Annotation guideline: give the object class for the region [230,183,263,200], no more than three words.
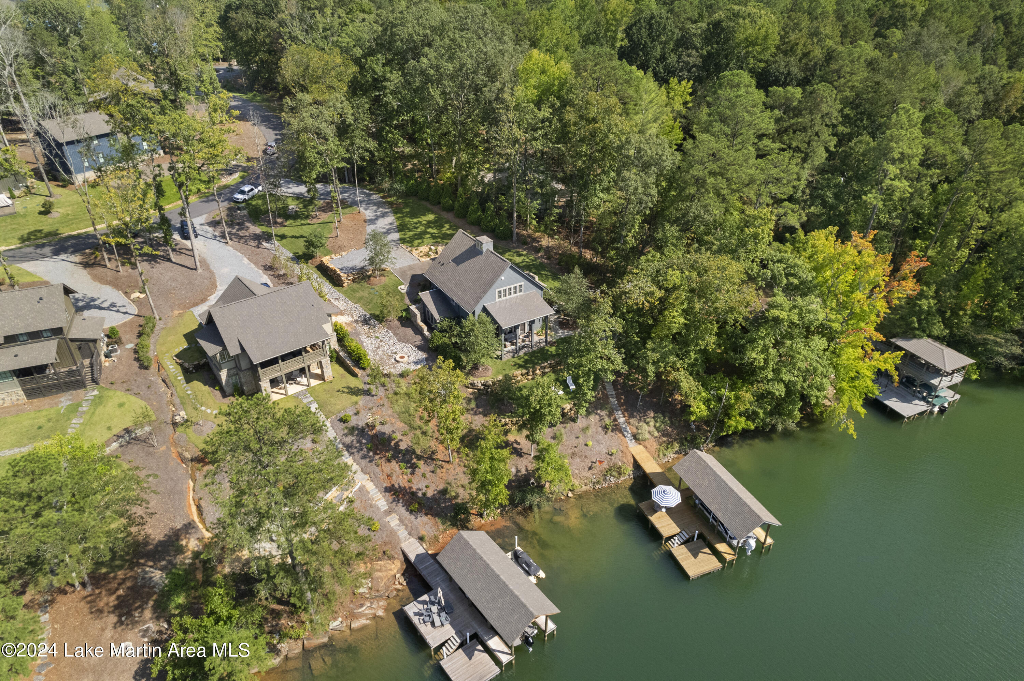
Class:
vehicle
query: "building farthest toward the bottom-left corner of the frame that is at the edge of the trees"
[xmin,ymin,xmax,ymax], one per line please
[0,282,111,406]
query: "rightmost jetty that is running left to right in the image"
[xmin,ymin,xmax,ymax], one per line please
[868,372,962,423]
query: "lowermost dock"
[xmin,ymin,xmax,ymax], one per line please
[439,639,500,681]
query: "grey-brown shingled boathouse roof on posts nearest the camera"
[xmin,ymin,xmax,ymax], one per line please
[436,531,561,660]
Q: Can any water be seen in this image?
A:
Yes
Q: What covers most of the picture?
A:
trees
